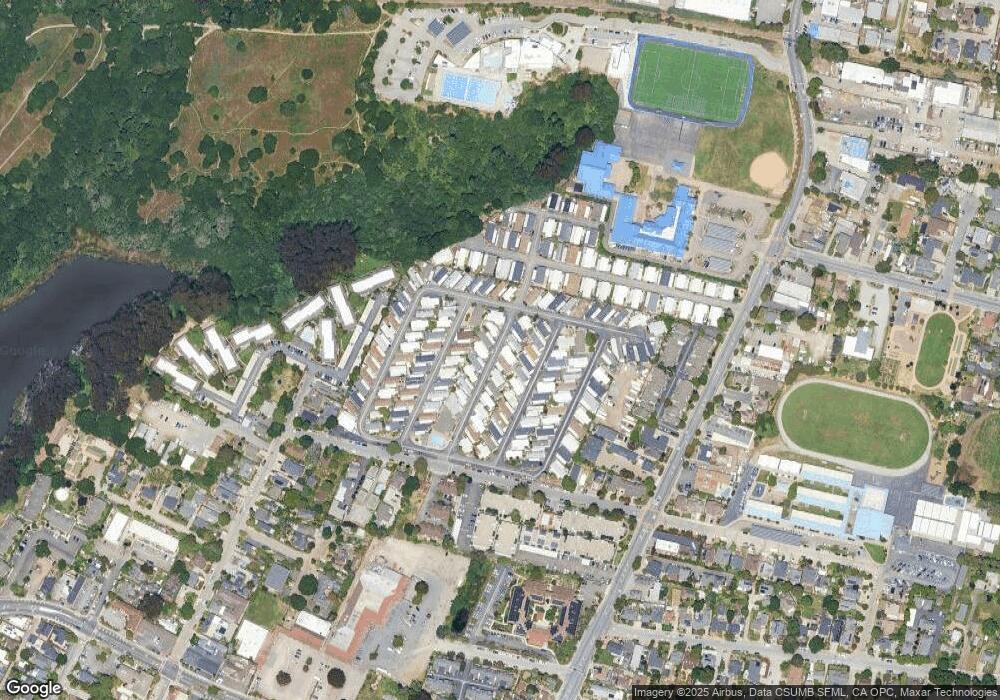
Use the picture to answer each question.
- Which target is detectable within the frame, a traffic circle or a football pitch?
football pitch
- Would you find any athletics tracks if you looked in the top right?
No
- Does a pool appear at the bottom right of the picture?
No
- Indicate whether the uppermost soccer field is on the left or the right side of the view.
right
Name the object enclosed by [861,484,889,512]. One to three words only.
building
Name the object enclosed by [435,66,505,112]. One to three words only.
swimming pool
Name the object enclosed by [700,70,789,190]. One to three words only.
baseball field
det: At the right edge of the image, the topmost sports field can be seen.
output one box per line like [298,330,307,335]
[913,310,958,390]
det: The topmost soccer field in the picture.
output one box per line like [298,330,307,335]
[630,35,754,127]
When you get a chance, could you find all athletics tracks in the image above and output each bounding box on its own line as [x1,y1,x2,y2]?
[776,377,934,474]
